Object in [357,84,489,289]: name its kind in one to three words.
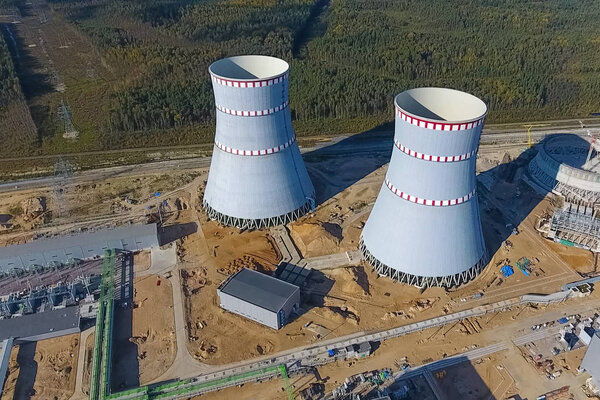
cooling tower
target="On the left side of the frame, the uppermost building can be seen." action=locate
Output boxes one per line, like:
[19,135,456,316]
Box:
[0,221,159,269]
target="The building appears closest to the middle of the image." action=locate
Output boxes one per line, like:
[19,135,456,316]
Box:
[216,268,297,329]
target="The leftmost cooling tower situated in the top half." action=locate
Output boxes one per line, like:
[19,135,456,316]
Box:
[203,53,315,230]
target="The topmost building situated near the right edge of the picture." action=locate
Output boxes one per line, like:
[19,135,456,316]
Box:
[527,206,600,246]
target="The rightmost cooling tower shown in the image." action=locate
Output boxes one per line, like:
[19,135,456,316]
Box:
[526,132,600,207]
